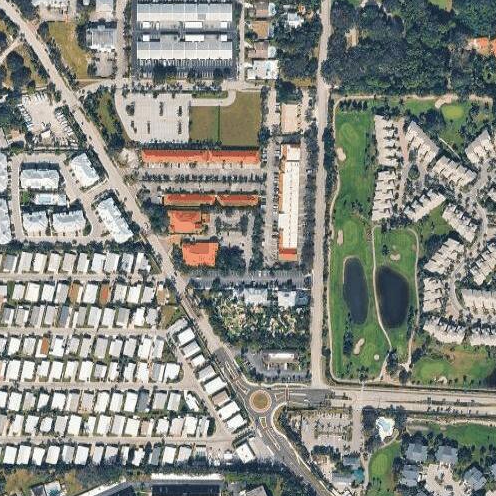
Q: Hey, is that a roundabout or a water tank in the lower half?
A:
roundabout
